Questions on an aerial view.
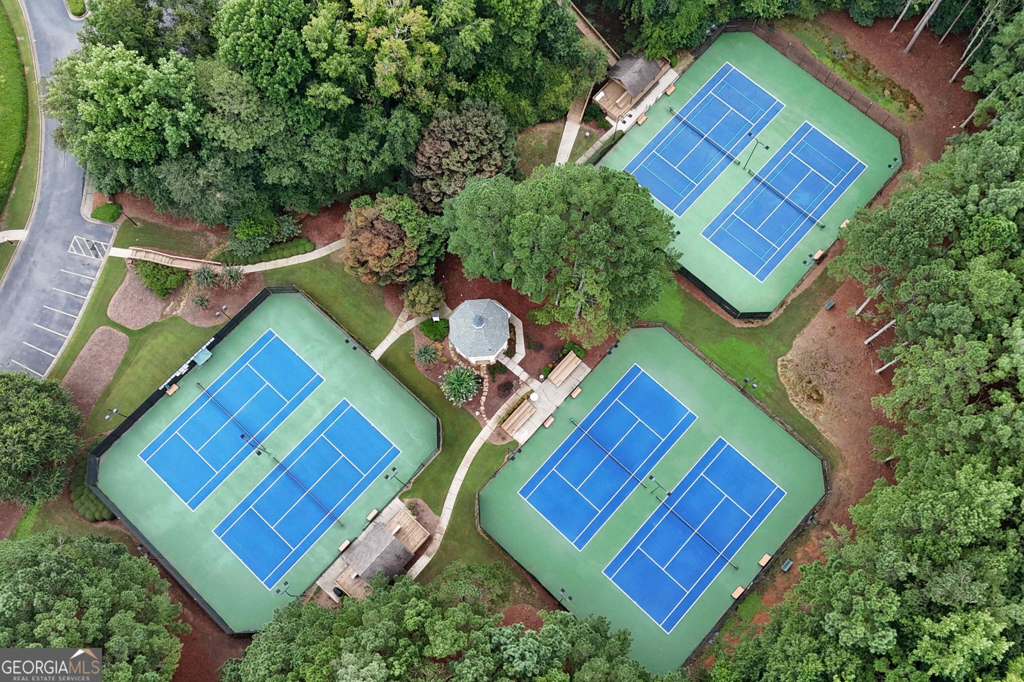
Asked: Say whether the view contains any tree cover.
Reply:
Yes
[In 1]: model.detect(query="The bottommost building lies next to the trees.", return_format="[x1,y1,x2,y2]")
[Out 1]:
[334,509,430,608]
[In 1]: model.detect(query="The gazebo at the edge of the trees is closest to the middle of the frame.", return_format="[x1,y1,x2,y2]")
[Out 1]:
[449,301,512,365]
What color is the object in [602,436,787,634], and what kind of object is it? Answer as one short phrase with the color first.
blue tennis court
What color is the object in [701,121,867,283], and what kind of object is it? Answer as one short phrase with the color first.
blue tennis court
